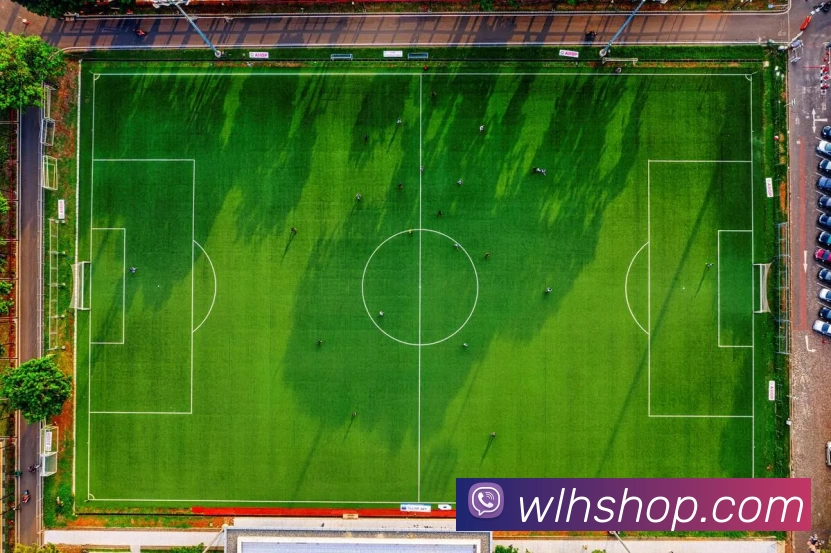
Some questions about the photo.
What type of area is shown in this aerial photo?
sports ground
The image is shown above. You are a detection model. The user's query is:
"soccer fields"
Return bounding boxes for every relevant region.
[76,63,765,518]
